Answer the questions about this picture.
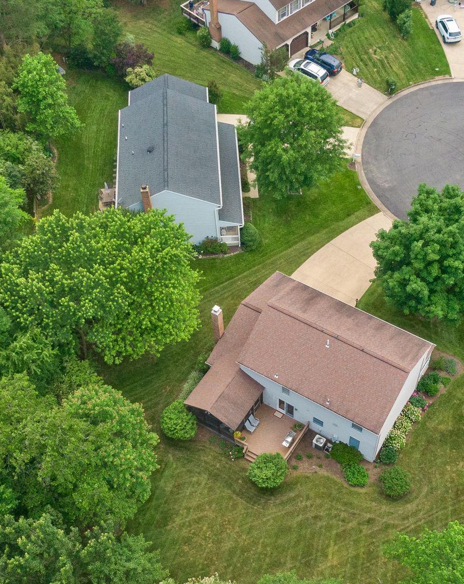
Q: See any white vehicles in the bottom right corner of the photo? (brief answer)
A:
No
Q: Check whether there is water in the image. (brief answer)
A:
No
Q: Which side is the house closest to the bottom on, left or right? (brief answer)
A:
right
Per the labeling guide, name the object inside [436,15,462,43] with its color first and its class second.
white car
